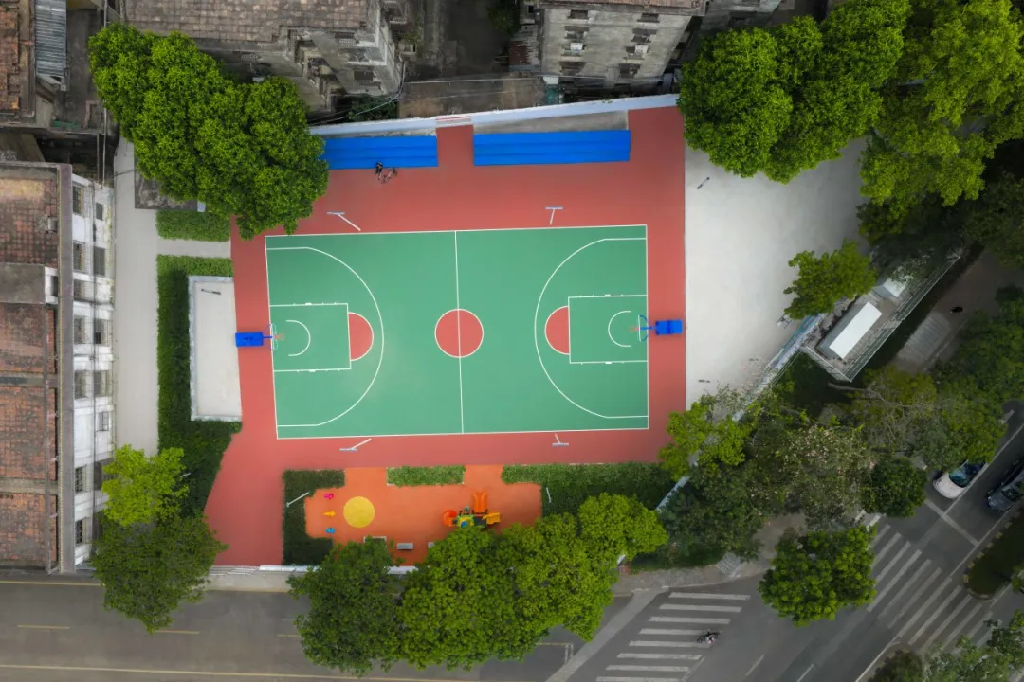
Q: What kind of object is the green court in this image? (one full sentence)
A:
The green court in the image is a basketball court.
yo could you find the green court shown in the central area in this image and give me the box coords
[205,106,686,568]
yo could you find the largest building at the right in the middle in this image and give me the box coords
[814,302,881,362]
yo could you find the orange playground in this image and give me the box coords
[305,465,543,567]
